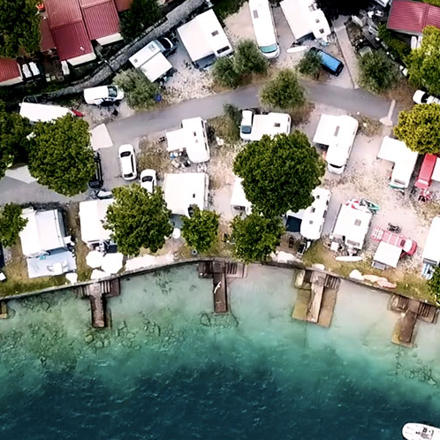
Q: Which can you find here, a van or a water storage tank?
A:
van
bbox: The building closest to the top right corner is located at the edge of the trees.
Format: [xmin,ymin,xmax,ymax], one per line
[387,0,440,38]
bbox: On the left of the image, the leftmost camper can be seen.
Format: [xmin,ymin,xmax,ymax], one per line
[21,208,75,259]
